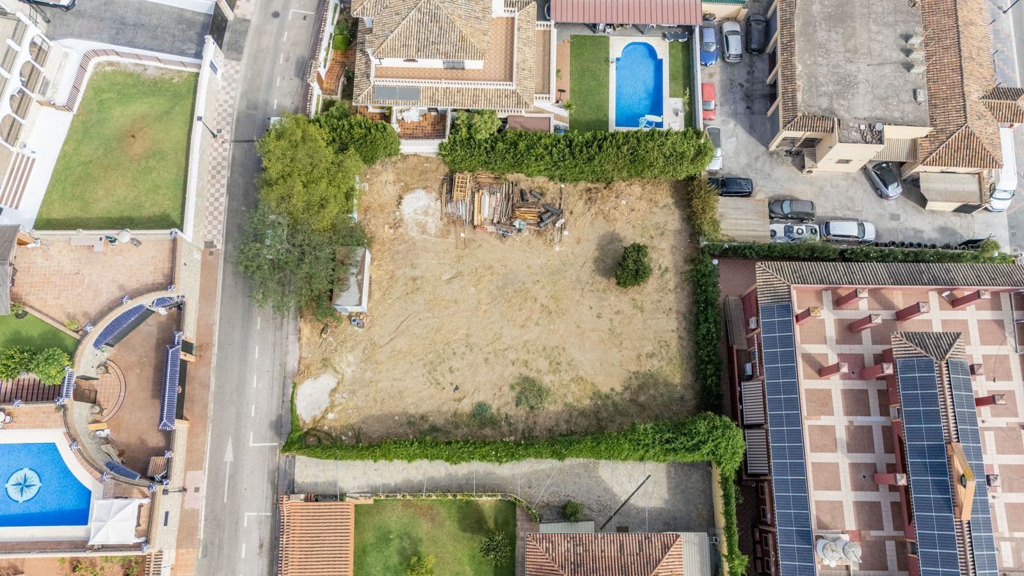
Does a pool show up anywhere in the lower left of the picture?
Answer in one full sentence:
Yes, there is a pool in the lower left of the picture.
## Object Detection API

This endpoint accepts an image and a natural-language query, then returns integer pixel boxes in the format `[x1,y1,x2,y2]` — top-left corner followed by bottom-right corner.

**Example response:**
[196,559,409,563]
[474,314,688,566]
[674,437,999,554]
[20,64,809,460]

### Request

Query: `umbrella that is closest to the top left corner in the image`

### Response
[119,232,137,247]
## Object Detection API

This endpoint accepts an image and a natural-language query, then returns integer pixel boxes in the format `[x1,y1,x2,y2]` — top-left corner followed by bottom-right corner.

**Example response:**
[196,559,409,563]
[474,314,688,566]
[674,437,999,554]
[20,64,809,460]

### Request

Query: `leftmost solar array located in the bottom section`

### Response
[760,303,814,576]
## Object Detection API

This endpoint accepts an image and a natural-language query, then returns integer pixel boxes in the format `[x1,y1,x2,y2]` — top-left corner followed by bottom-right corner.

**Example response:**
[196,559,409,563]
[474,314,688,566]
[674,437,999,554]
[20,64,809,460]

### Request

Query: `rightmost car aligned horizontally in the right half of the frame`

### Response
[819,217,876,245]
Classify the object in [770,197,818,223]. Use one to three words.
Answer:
car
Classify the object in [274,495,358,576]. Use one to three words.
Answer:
building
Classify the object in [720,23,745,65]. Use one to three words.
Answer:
car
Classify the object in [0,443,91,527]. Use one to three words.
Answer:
swimming pool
